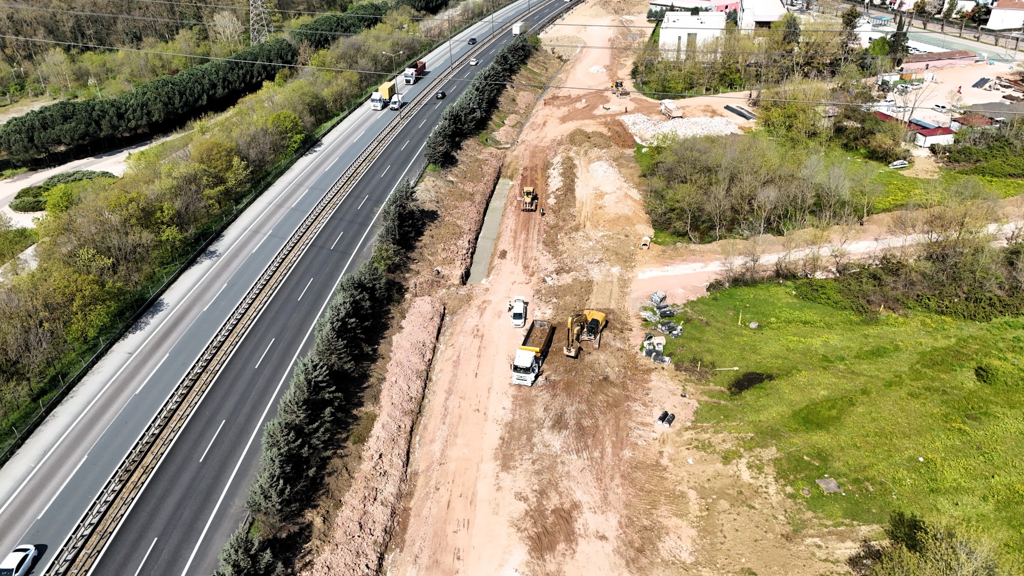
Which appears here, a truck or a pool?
truck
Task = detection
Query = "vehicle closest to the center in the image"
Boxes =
[512,297,526,325]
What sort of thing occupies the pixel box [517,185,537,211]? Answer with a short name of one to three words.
work vehicle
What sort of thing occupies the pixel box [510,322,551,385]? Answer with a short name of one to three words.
truck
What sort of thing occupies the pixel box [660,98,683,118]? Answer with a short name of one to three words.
vehicle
